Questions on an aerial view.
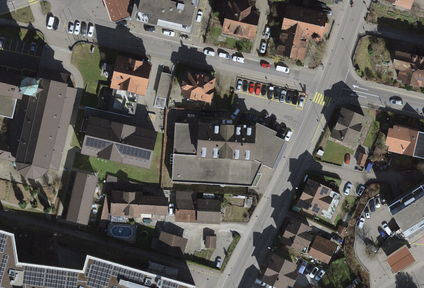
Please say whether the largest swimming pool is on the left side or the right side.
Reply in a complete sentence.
The largest swimming pool is on the left side of the image.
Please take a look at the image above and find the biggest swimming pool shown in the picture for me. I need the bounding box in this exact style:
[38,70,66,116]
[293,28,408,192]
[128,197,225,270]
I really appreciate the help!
[108,224,137,244]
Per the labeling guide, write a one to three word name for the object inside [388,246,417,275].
building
